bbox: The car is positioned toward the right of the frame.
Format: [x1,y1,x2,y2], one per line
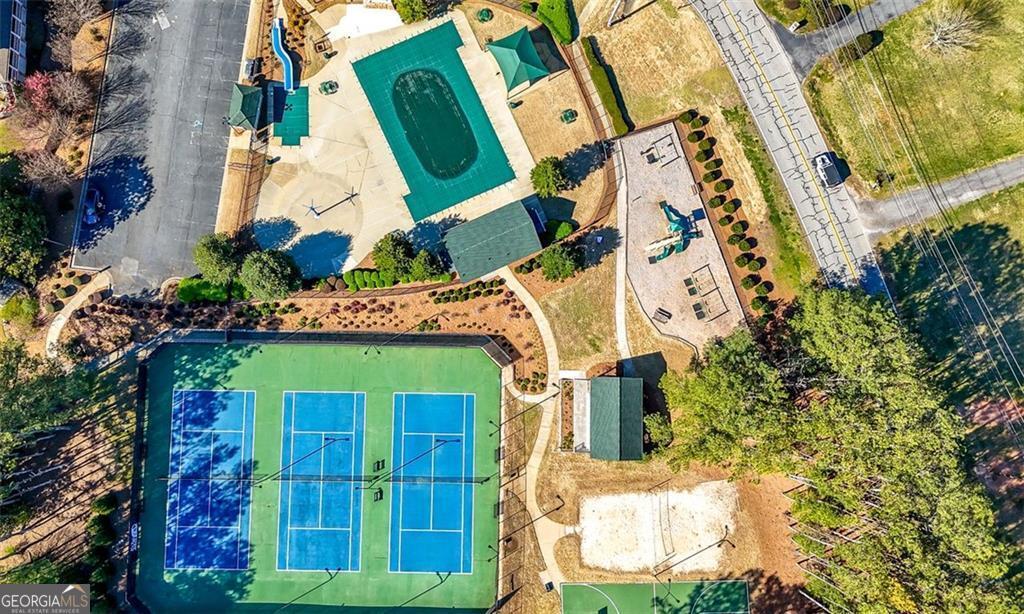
[816,152,844,187]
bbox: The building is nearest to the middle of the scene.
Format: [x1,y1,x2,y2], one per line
[445,200,542,282]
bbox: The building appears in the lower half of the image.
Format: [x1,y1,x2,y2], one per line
[590,377,642,462]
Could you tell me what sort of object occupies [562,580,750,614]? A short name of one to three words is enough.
basketball court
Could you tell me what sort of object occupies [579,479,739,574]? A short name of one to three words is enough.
sports court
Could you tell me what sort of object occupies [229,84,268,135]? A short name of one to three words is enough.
shed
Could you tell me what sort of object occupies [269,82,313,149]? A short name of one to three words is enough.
swimming pool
